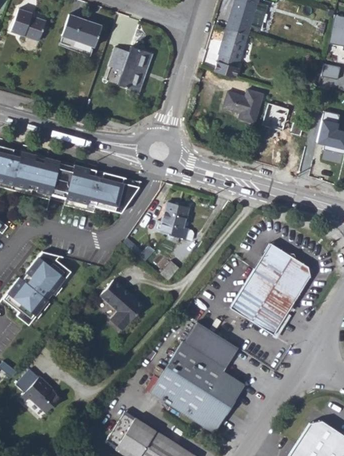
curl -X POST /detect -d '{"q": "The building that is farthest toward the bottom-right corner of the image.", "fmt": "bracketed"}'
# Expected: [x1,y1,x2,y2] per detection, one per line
[284,421,344,456]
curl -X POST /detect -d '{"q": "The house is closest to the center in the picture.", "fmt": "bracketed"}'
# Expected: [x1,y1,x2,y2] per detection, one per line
[158,198,190,236]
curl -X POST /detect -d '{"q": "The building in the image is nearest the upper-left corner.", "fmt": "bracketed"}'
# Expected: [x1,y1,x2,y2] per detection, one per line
[12,4,48,40]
